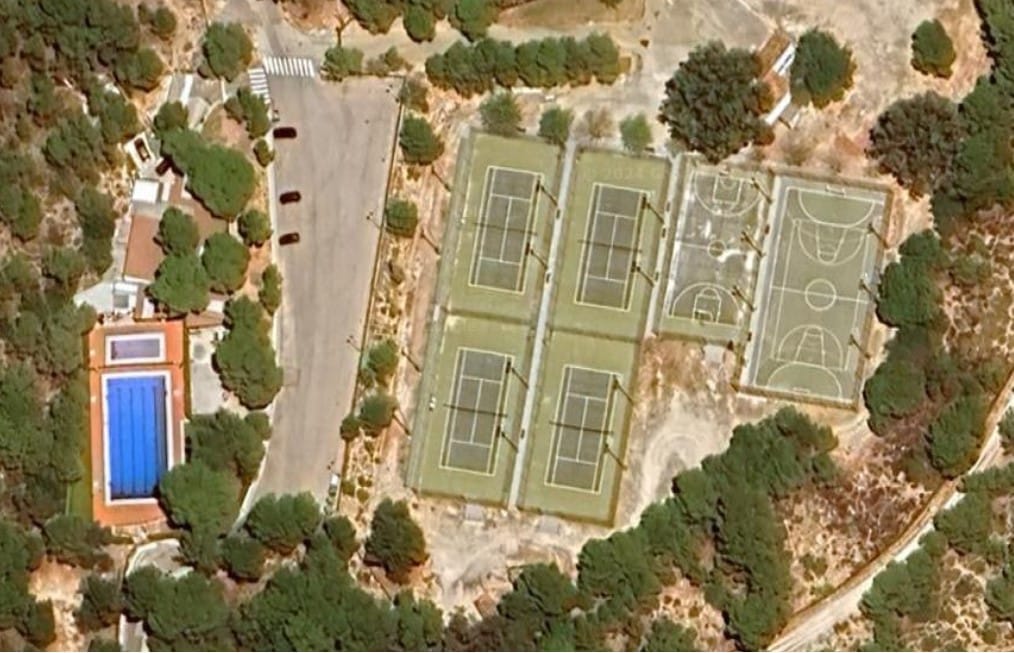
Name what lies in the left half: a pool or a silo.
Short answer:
pool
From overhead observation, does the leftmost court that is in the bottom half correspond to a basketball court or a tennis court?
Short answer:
tennis court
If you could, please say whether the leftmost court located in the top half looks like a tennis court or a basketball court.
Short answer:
tennis court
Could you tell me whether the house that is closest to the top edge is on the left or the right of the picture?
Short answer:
right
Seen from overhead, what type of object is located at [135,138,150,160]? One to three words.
car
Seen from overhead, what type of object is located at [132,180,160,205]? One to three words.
shed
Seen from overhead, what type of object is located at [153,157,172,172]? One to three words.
car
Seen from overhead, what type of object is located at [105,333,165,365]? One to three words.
swimming pool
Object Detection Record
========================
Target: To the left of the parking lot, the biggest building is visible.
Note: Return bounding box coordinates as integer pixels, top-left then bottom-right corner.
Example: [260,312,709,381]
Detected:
[124,213,161,285]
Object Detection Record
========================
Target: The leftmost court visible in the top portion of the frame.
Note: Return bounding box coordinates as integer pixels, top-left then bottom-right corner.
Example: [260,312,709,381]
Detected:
[443,137,564,323]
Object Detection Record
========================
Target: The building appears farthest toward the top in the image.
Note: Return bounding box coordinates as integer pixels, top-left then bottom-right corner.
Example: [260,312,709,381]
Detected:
[754,28,799,83]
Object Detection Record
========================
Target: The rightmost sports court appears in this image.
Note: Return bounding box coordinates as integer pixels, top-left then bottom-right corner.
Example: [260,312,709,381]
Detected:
[742,177,891,407]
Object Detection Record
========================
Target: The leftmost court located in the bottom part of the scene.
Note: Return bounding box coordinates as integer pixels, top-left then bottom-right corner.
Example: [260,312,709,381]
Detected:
[415,314,537,503]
